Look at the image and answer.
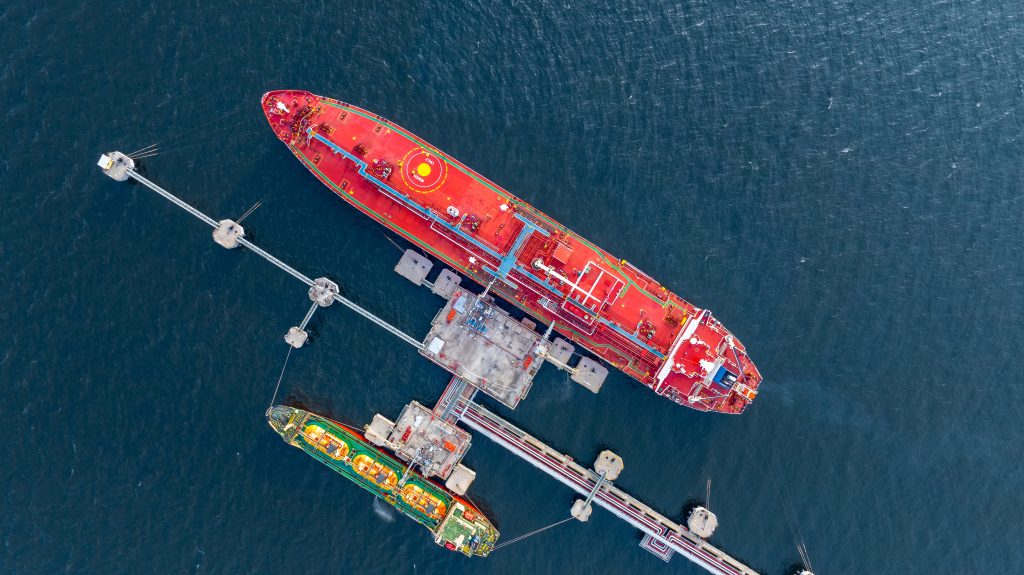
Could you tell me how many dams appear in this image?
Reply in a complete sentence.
There are no dams in this view.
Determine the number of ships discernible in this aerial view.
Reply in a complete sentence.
The count of ships comes to 2.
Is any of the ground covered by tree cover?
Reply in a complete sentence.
No, the scene doesn't show any tree cover.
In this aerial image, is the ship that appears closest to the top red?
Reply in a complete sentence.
Yes, the ship that appears closest to the top is red.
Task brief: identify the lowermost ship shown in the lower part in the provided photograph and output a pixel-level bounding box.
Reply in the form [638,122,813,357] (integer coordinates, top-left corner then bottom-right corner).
[264,404,501,556]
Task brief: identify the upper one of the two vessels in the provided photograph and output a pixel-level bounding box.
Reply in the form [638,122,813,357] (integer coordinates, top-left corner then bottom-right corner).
[260,87,765,413]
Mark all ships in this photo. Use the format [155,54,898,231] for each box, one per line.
[264,404,501,556]
[260,87,765,413]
